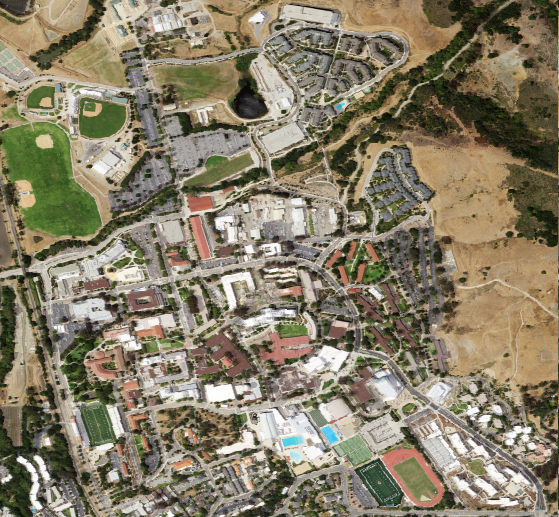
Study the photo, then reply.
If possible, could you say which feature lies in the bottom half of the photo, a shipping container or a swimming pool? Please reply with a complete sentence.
Visible in the bottom half of the photo is a swimming pool.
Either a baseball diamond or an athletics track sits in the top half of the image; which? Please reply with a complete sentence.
Visible in the top half of the image is a baseball diamond.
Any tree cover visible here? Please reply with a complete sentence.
Yes, tree cover shows up in the scene.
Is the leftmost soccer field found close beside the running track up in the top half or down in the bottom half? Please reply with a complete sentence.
The leftmost soccer field found close beside the running track sits in the bottom half of the picture.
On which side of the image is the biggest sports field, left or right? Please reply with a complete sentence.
The biggest sports field is on the left side of the image.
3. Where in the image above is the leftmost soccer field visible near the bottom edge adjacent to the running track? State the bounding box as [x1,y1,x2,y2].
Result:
[355,458,403,506]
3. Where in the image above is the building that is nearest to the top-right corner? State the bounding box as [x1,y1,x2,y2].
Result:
[367,35,403,67]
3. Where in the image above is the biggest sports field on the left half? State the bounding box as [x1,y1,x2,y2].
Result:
[1,123,100,235]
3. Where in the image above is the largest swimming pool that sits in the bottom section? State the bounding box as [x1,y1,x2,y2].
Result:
[279,434,320,466]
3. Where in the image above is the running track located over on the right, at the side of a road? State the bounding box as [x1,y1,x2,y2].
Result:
[380,447,443,507]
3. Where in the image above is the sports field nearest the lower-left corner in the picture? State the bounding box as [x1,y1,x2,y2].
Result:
[80,404,116,445]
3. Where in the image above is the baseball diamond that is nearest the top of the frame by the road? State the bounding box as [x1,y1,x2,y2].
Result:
[25,84,57,110]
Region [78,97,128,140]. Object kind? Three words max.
baseball field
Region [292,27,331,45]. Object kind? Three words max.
building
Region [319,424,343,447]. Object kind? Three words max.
swimming pool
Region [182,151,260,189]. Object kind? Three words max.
sports field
